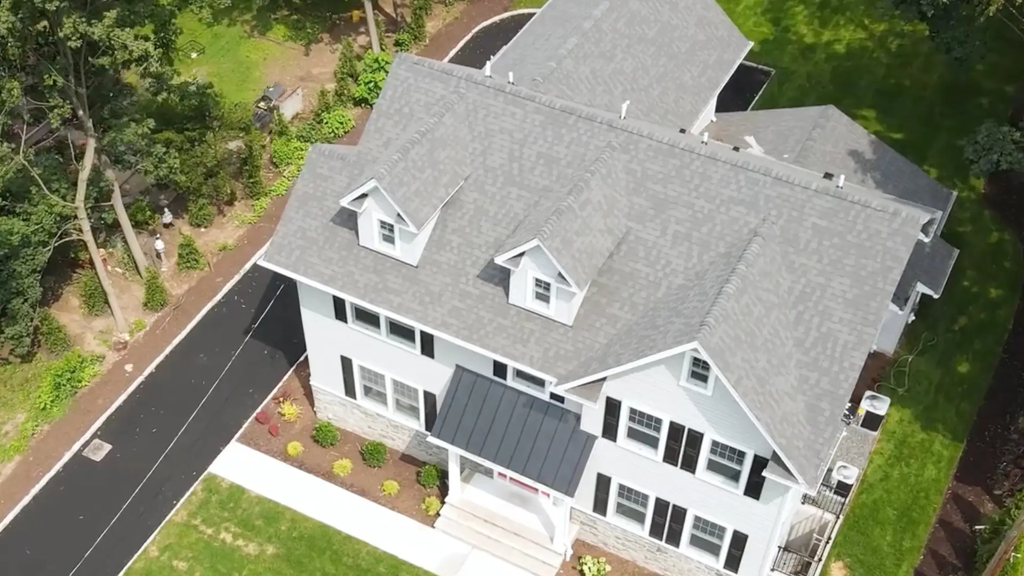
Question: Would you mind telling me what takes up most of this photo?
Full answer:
What you mostly see from above here is buildings.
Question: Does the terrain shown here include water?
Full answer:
No, water can't be seen anywhere here.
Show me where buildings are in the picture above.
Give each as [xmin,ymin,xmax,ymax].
[258,0,958,576]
